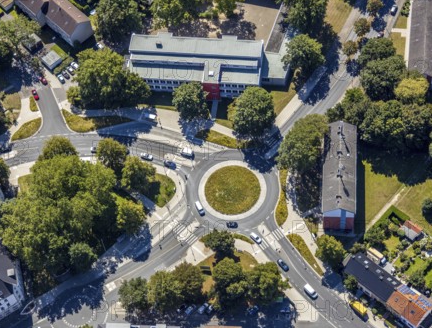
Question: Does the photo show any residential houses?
Yes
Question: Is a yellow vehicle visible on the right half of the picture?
Yes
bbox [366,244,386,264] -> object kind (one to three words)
vehicle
